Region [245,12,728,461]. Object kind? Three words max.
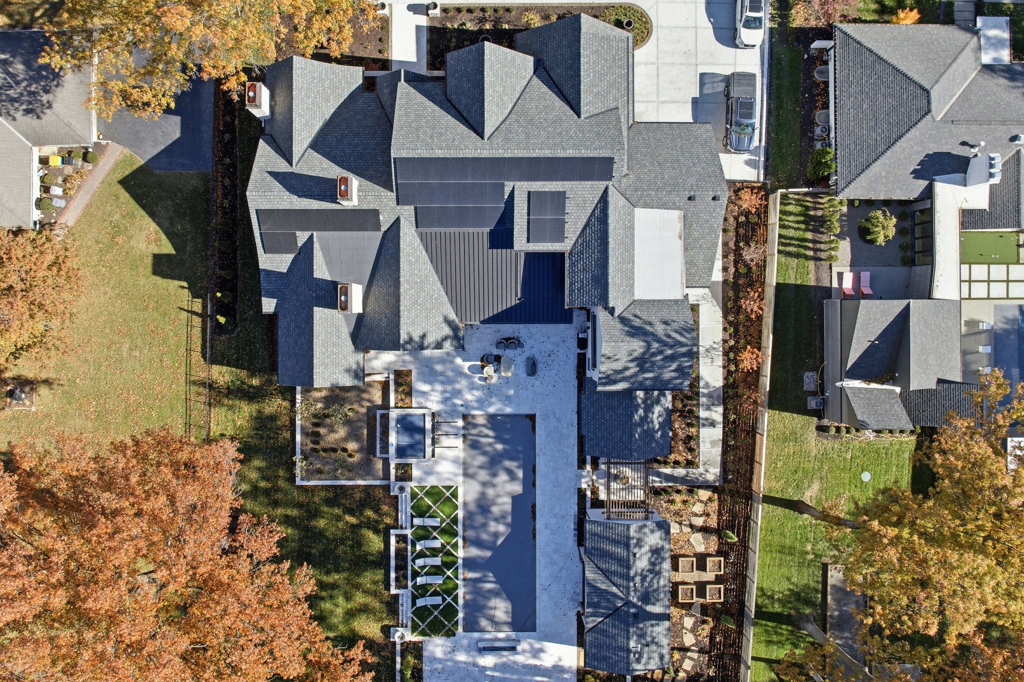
house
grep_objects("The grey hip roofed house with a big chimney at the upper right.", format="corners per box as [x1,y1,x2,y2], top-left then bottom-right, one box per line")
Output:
[806,17,1024,302]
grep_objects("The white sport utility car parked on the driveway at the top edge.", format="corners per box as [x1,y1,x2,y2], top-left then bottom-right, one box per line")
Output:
[736,0,771,50]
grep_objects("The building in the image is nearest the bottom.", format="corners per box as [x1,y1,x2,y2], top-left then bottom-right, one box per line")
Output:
[582,510,672,676]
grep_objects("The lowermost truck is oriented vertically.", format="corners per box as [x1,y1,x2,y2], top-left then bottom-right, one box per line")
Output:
[726,70,762,155]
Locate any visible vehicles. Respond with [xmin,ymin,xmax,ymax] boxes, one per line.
[726,70,762,155]
[736,0,771,50]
